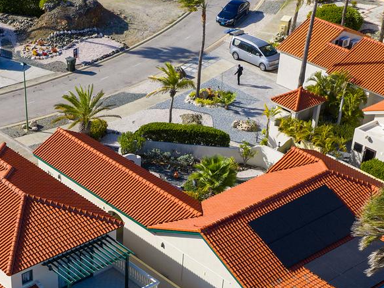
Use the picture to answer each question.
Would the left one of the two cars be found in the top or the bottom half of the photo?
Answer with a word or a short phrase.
top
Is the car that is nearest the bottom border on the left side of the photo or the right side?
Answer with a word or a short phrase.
right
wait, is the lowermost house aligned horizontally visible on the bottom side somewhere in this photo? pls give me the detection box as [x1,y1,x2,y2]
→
[31,128,384,288]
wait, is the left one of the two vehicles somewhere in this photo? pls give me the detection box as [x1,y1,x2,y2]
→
[218,0,251,23]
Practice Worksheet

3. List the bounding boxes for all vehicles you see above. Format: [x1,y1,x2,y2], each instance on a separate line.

[225,28,282,71]
[218,0,251,23]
